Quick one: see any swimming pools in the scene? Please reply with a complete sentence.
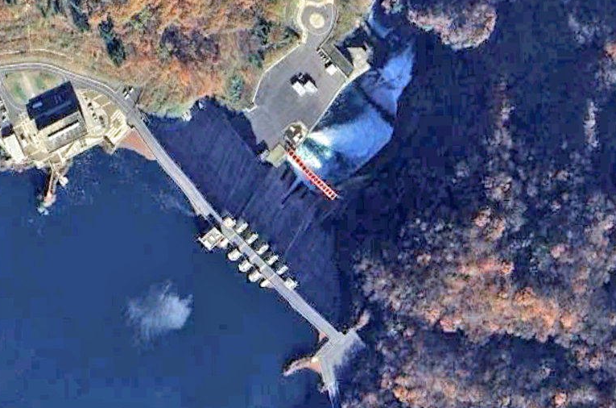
Yes, a swimming pool can be made out from above.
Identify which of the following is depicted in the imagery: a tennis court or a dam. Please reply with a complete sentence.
Visible in the photo is a dam.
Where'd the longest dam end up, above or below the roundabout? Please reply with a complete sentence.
The longest dam is below the roundabout.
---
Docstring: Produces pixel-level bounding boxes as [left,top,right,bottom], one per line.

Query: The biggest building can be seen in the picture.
[39,110,87,153]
